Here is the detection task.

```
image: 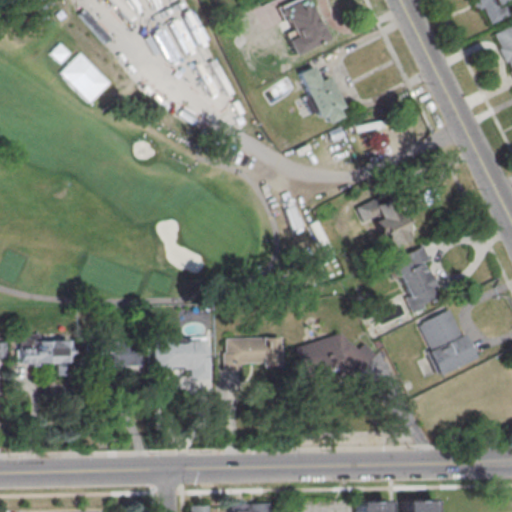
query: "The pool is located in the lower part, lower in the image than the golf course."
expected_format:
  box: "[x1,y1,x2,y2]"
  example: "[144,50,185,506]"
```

[182,320,206,336]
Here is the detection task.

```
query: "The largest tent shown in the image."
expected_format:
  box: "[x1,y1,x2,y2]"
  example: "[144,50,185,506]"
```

[60,52,112,104]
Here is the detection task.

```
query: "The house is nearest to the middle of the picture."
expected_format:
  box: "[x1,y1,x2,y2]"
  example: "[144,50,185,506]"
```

[224,337,284,366]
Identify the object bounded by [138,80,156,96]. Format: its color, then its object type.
white vehicle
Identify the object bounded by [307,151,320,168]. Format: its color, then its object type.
white vehicle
